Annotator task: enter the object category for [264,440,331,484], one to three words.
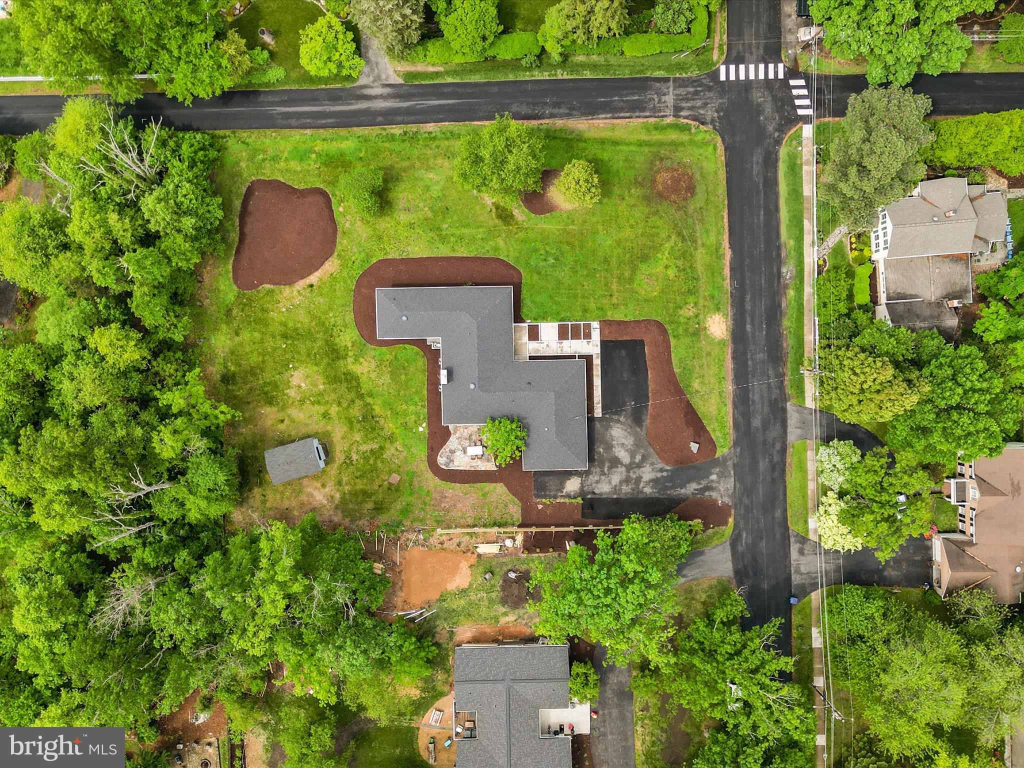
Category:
shed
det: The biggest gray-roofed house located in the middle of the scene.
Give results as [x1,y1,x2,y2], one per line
[375,285,588,472]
